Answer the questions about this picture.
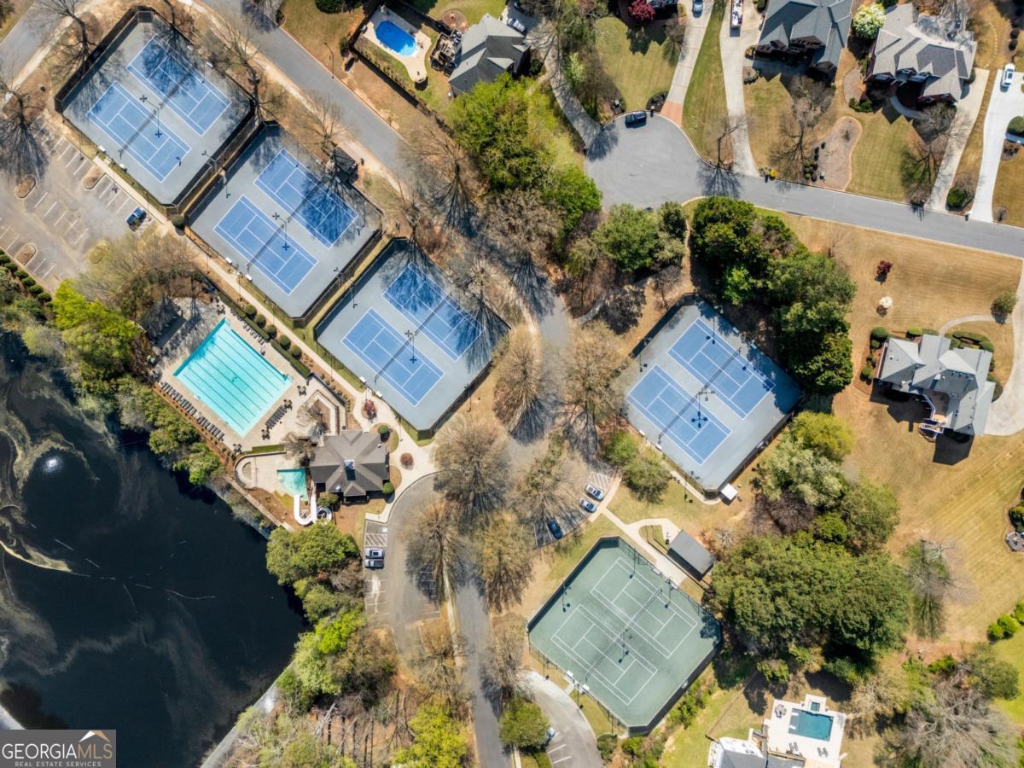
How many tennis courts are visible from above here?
10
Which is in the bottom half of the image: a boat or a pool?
pool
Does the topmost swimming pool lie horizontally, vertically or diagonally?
diagonally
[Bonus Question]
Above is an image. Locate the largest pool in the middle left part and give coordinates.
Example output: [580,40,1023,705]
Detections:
[173,318,292,437]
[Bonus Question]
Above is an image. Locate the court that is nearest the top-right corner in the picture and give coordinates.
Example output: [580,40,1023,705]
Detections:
[668,318,775,420]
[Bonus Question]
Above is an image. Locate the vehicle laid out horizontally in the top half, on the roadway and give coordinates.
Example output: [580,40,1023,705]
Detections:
[625,112,647,124]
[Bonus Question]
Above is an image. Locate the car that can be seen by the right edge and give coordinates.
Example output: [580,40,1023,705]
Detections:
[1003,64,1018,86]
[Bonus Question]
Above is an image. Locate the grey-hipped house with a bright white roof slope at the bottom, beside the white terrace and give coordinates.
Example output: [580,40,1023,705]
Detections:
[707,729,804,768]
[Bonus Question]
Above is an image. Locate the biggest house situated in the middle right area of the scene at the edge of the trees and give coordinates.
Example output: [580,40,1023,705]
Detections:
[871,335,995,436]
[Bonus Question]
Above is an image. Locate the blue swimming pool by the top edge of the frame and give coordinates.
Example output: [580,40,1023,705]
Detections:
[375,20,416,56]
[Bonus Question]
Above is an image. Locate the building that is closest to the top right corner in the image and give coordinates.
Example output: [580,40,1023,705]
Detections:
[862,3,977,107]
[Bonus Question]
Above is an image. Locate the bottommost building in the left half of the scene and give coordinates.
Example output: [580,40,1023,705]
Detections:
[306,430,389,503]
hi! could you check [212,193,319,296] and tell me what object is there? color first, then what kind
blue tennis court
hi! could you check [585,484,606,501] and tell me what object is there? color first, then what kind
white car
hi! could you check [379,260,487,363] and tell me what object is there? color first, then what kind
blue tennis court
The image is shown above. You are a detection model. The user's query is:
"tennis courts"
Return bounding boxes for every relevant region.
[252,147,359,250]
[590,557,698,658]
[625,363,732,465]
[339,305,446,409]
[85,80,192,182]
[212,193,319,296]
[668,318,775,420]
[125,34,232,136]
[550,604,658,705]
[379,260,487,363]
